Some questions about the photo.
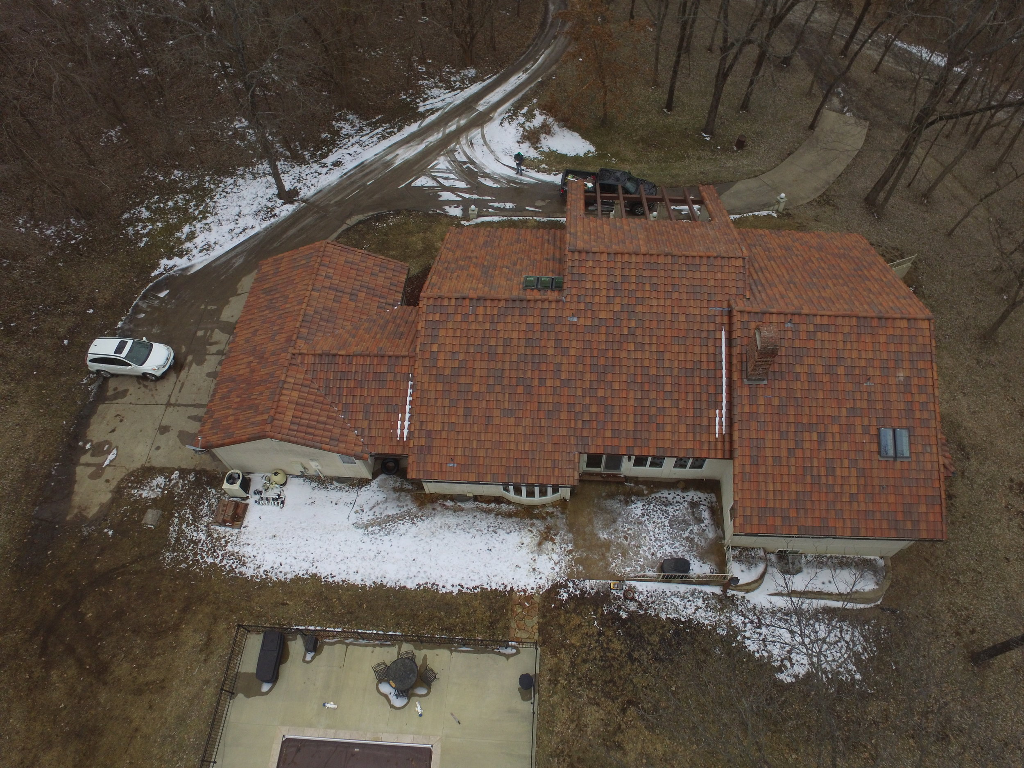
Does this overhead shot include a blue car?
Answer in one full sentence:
No, the scene contains no blue car.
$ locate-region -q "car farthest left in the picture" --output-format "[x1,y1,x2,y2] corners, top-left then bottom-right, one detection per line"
[81,337,175,383]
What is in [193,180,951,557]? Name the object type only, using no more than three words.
house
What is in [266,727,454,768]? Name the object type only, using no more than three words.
swimming pool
